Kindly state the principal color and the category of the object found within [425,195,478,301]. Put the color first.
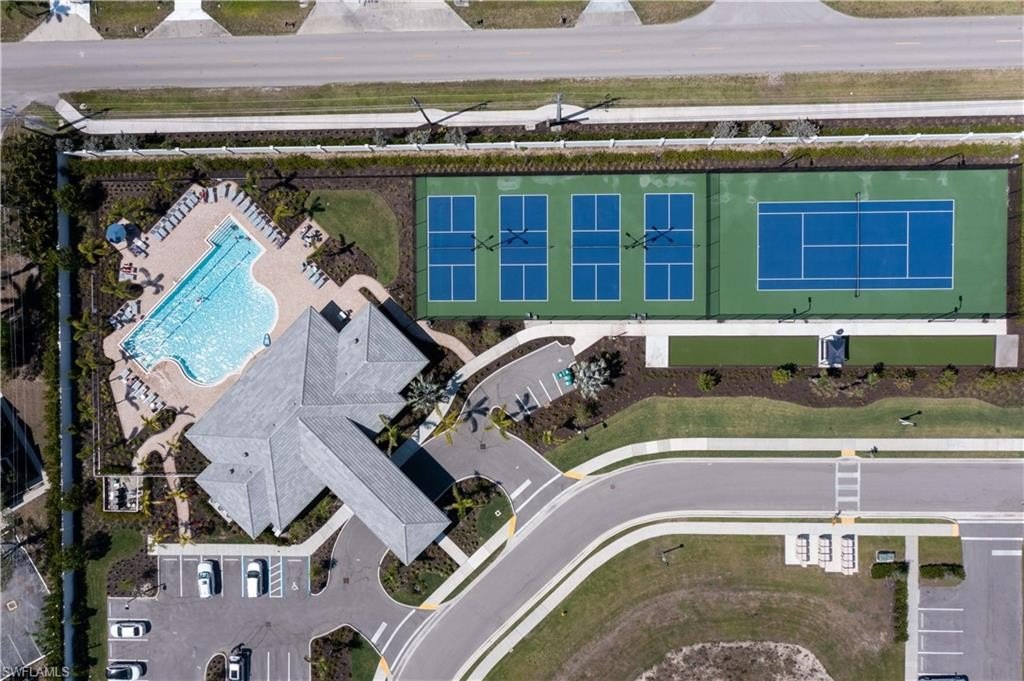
blue sports court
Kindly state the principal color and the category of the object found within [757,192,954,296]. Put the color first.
blue tennis court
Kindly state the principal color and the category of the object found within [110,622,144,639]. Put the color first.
white car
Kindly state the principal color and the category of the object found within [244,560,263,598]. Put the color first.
white car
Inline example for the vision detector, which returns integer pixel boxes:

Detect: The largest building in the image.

[186,302,451,565]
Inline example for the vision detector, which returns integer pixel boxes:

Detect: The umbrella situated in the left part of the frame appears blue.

[108,225,129,244]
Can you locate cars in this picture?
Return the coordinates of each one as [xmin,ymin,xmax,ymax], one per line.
[228,658,246,681]
[104,663,141,681]
[244,560,263,598]
[110,622,144,639]
[196,560,217,598]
